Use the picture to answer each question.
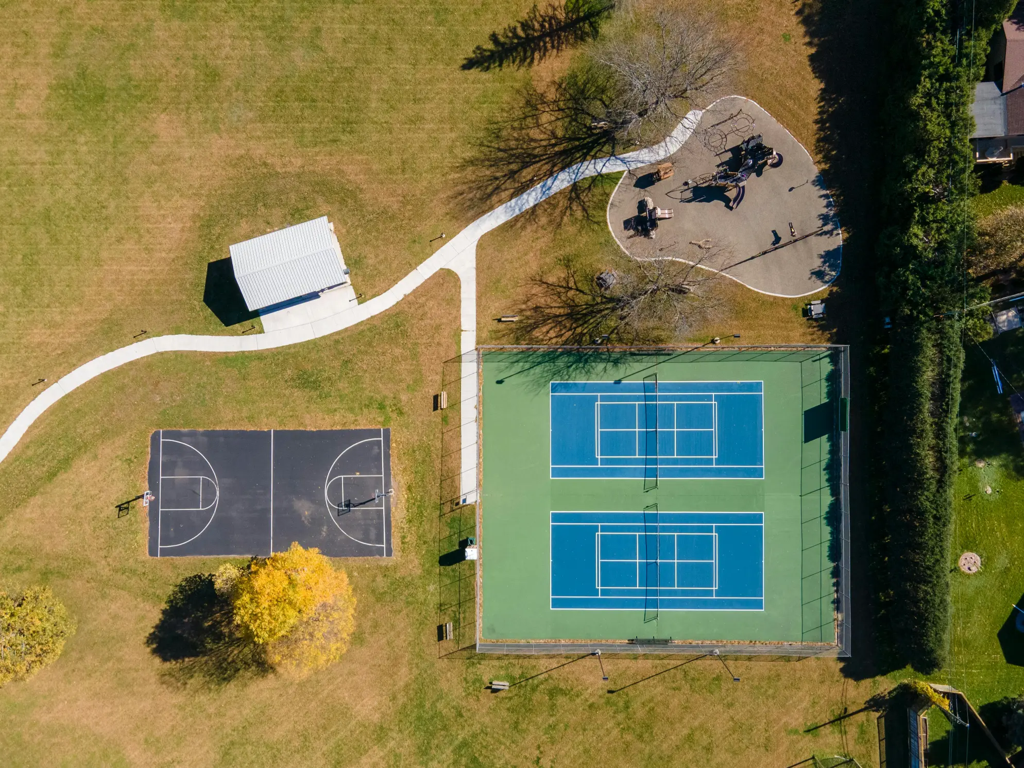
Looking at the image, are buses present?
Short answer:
No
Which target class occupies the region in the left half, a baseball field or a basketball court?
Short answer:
basketball court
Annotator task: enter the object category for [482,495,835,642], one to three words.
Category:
tennis court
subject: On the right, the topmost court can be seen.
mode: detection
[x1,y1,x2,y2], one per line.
[482,350,832,495]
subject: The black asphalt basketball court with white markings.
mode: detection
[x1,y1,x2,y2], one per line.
[148,428,393,557]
